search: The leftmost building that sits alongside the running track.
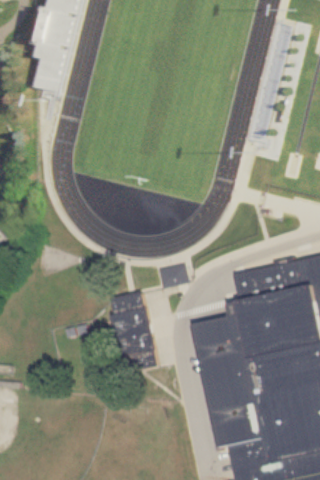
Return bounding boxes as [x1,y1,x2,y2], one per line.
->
[110,290,158,368]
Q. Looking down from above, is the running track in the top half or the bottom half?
top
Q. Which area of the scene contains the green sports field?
top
